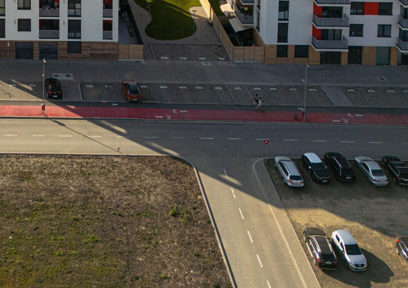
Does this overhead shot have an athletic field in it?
No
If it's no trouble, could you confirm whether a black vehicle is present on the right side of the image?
Yes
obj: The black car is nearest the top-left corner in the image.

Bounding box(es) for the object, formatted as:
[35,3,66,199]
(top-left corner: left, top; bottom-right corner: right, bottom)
[44,74,63,98]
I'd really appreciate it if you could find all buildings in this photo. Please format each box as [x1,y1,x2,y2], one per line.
[223,0,408,66]
[0,0,121,61]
